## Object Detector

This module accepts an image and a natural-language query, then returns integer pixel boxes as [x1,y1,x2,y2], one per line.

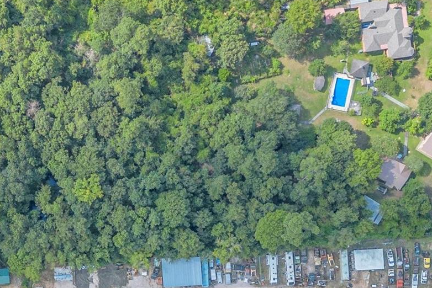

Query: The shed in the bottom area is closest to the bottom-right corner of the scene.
[352,248,384,270]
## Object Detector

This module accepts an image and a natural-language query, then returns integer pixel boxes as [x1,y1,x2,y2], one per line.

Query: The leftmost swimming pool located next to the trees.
[325,72,355,113]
